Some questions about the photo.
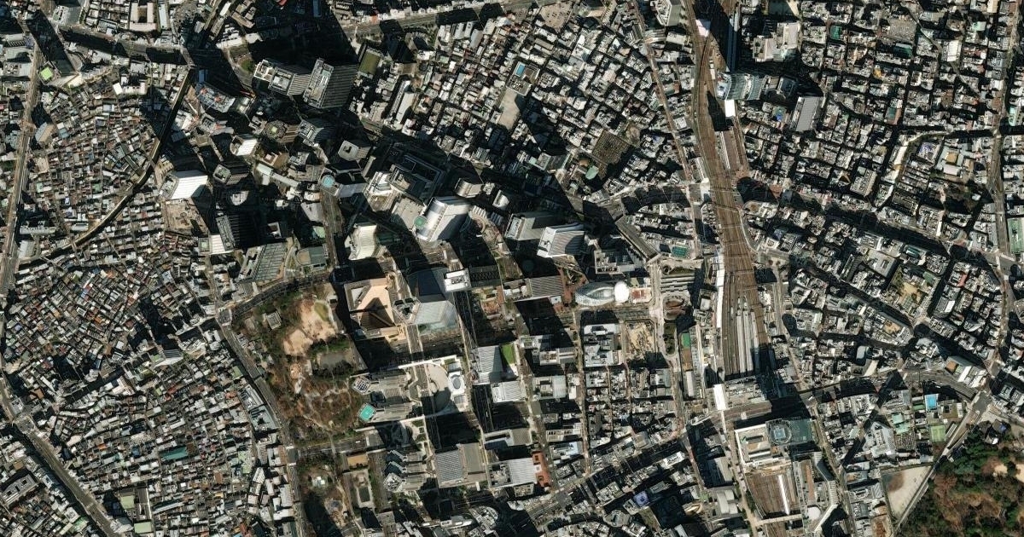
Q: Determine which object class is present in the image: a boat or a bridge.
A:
bridge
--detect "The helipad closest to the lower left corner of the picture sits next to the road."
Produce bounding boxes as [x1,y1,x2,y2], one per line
[360,405,373,418]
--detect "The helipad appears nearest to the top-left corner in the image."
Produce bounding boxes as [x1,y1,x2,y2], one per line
[322,174,335,187]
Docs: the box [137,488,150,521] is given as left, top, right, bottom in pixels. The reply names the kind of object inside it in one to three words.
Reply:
building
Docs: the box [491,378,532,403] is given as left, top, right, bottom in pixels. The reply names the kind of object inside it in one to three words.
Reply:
building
